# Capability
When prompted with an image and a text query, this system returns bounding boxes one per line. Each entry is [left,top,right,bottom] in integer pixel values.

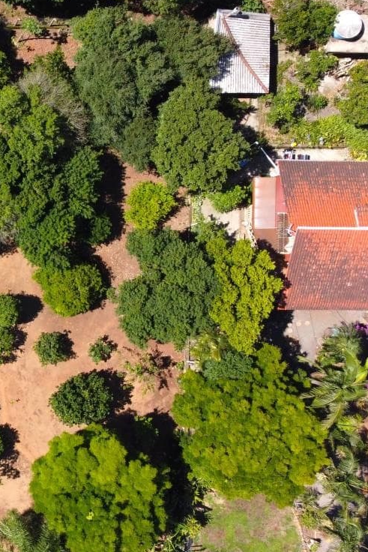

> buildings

[204,4,271,97]
[271,159,368,311]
